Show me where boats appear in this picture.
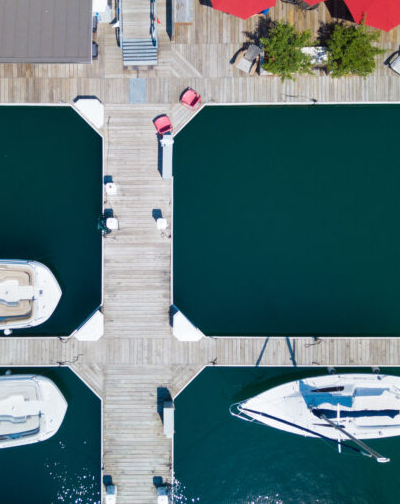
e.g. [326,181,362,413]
[0,372,67,446]
[229,373,400,463]
[0,258,62,330]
